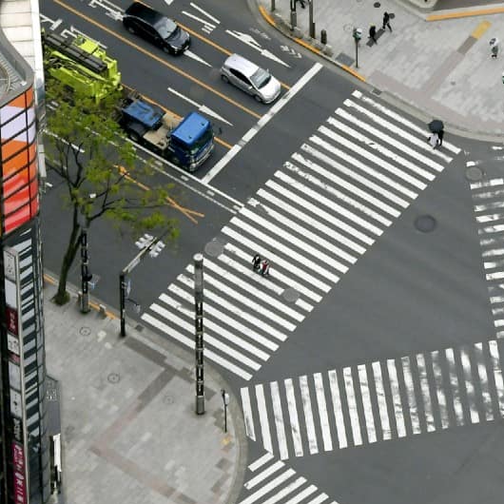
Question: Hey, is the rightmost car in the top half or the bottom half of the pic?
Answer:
top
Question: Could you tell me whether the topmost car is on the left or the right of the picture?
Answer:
left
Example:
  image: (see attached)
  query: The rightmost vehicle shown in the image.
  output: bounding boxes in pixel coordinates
[219,55,283,105]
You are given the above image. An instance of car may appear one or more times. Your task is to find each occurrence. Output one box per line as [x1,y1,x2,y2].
[118,0,195,56]
[219,55,283,105]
